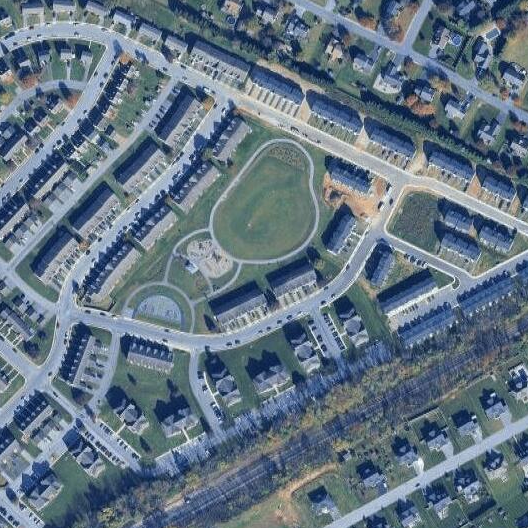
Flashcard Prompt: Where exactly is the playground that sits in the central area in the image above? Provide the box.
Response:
[188,237,233,278]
